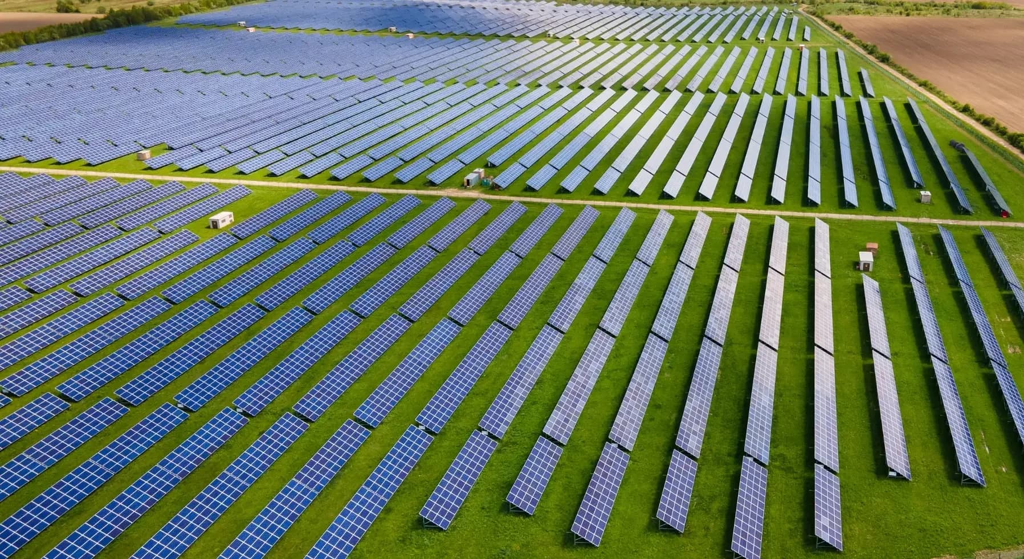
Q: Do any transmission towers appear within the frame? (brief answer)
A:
No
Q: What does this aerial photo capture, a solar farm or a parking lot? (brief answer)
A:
solar farm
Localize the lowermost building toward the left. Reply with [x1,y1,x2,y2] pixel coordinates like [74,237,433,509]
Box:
[209,211,235,229]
